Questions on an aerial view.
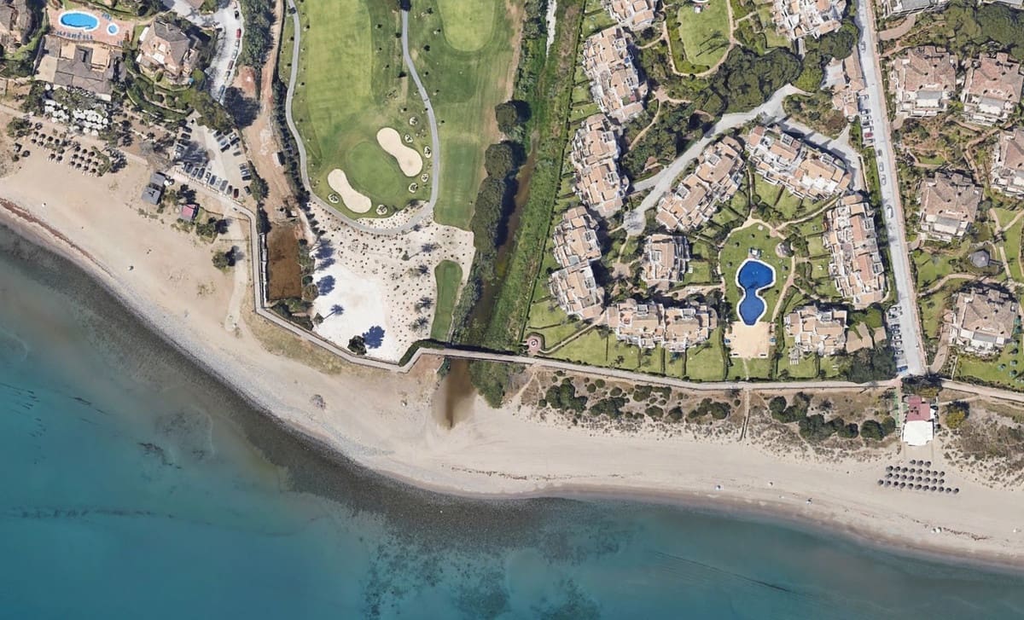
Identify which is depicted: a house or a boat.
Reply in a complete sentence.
This aerial view contains a house.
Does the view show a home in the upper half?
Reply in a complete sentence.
Yes, there is a home in the upper half.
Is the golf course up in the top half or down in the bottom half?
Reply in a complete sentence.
The top half of the photo is where the golf course is.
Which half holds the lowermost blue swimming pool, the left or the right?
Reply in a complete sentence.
The lowermost blue swimming pool is on the right side of the image.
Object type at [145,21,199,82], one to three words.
house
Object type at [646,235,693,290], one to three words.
building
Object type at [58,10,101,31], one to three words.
swimming pool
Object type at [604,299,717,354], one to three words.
building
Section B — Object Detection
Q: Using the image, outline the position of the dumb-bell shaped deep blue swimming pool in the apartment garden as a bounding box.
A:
[737,259,775,327]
